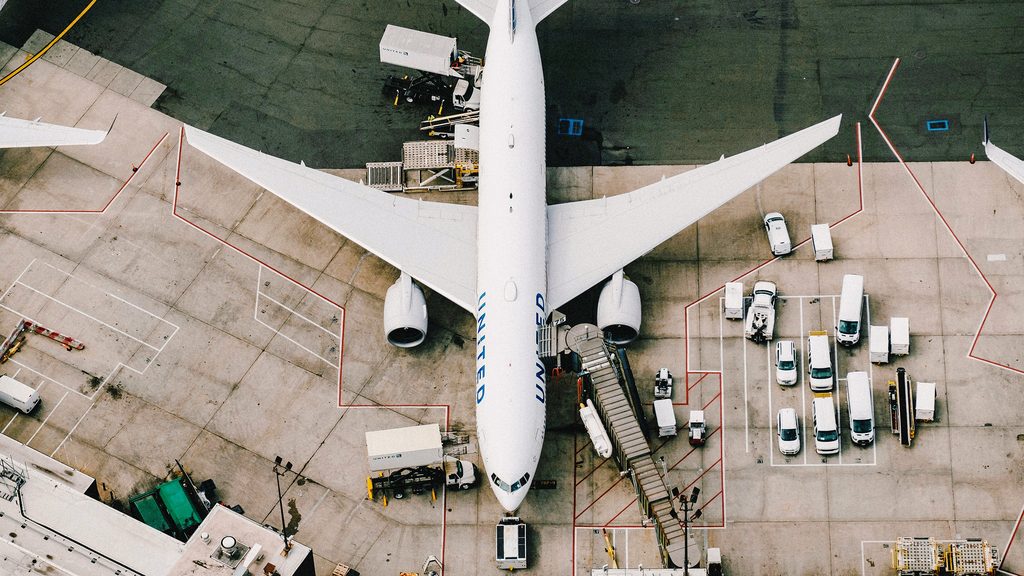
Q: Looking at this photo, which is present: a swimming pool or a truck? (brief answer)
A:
truck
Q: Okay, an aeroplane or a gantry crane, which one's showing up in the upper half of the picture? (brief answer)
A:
aeroplane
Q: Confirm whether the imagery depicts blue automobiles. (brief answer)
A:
No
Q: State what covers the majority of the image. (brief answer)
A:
paved ground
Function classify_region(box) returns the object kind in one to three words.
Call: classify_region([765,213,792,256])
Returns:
vehicle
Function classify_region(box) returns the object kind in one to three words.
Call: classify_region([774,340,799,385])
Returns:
car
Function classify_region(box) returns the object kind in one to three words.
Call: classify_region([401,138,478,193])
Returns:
work vehicle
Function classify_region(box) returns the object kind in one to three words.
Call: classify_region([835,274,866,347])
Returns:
van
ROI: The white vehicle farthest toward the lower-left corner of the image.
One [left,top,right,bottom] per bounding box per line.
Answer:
[0,372,40,415]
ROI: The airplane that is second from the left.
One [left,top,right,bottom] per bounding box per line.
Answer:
[184,0,841,513]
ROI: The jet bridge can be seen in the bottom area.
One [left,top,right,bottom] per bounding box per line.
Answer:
[539,310,700,574]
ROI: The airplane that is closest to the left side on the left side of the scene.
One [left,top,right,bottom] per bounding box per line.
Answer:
[0,112,118,148]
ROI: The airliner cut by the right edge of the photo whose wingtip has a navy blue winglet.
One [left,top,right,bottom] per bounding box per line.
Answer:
[984,117,1024,185]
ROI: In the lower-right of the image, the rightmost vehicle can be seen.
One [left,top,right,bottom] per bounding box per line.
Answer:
[944,539,1003,576]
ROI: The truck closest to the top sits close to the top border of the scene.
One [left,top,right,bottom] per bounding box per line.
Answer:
[381,20,484,115]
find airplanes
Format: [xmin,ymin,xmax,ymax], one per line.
[0,112,118,148]
[184,0,841,513]
[984,117,1024,185]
